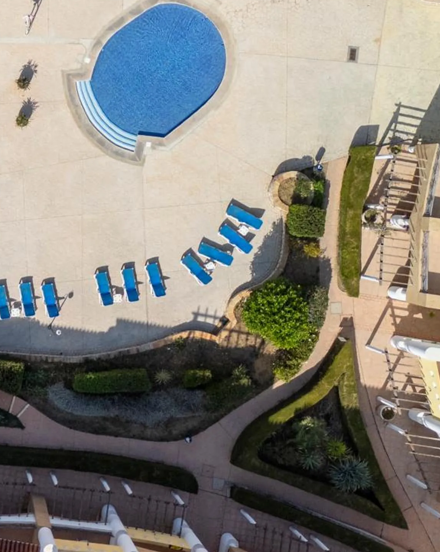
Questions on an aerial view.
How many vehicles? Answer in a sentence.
There are no vehicles in this view.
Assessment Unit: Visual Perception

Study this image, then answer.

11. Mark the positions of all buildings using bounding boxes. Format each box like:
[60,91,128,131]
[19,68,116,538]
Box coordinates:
[373,144,440,310]
[374,328,440,458]
[0,484,208,552]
